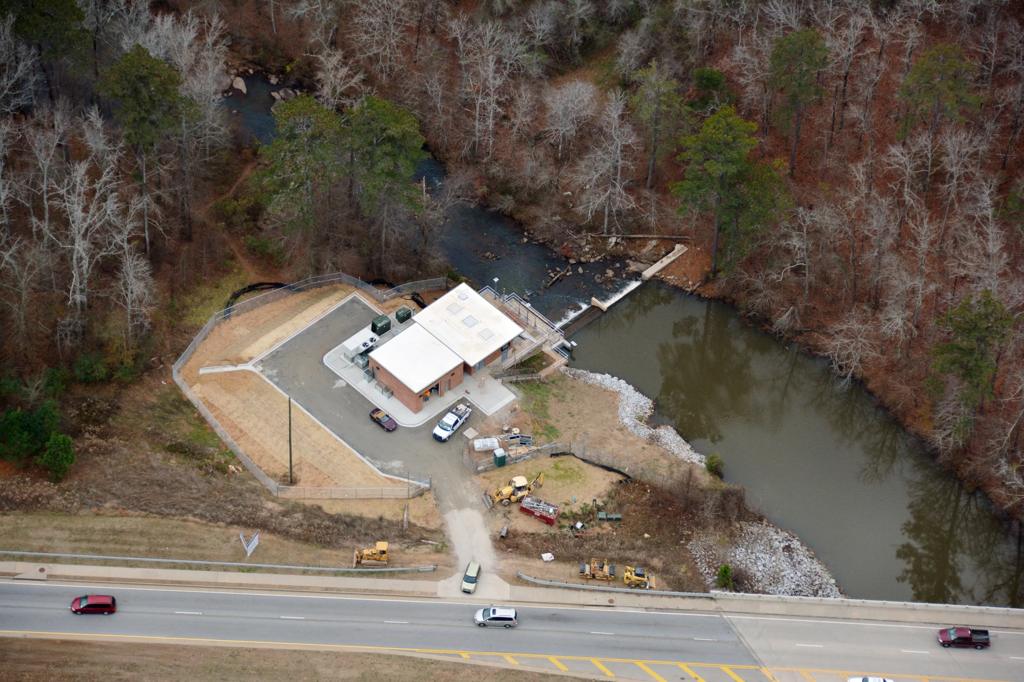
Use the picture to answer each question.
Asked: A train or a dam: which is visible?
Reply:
dam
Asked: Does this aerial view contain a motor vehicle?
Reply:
Yes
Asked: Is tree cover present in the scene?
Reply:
Yes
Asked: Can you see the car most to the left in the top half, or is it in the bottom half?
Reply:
bottom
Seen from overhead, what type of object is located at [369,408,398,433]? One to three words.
car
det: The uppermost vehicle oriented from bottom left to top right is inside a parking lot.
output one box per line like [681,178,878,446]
[431,402,472,439]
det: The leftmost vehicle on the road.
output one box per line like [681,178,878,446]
[72,596,116,618]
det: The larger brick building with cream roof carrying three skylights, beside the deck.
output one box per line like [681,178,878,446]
[411,283,525,375]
